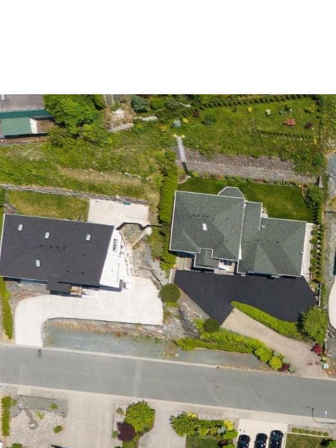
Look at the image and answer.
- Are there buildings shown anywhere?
Yes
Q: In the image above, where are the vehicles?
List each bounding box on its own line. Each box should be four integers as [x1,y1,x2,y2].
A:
[235,436,249,448]
[252,434,266,448]
[267,431,281,448]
